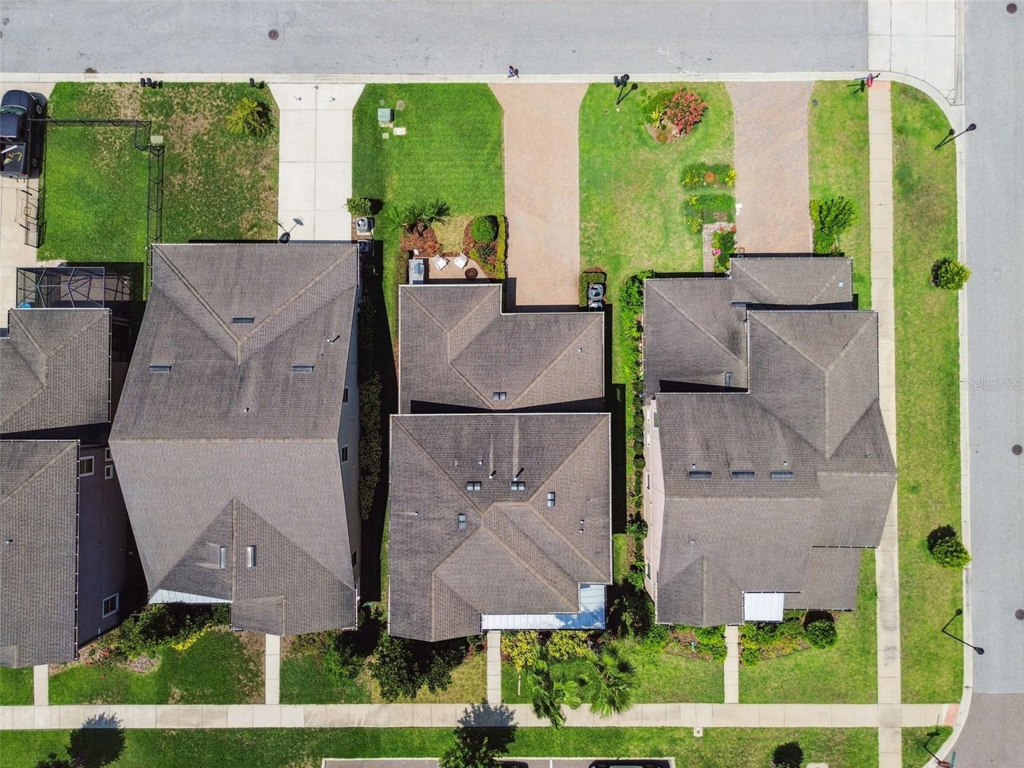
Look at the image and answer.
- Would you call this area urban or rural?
urban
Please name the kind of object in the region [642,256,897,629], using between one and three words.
house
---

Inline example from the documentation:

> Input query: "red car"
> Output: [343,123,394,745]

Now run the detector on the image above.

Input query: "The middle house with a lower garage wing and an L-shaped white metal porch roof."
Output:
[386,283,612,641]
